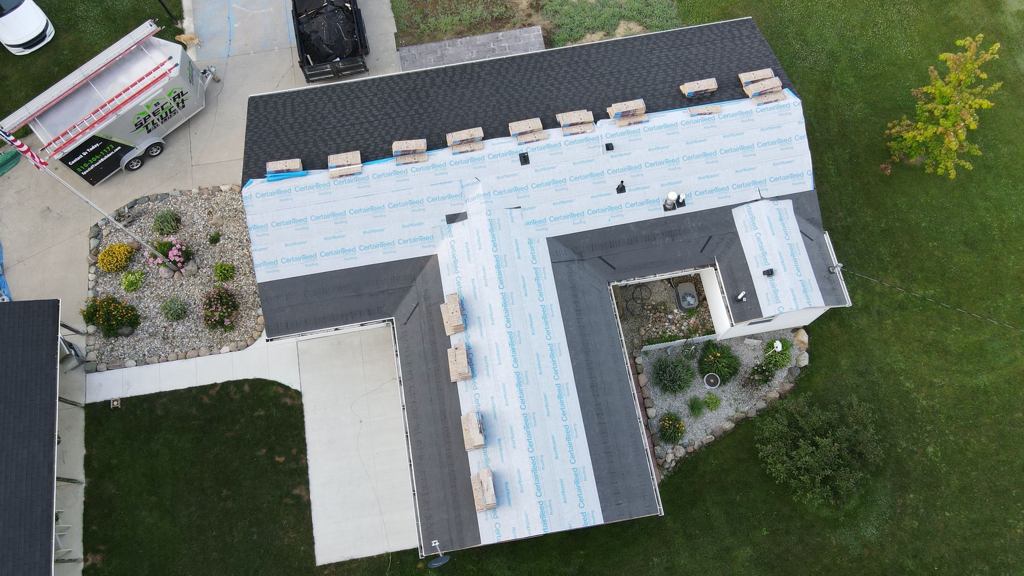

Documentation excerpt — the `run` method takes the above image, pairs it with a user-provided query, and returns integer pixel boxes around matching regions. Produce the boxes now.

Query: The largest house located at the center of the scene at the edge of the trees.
[240,15,858,558]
